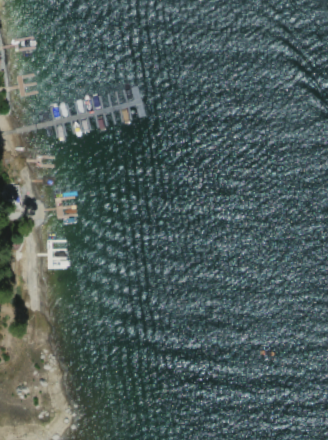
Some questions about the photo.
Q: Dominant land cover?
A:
water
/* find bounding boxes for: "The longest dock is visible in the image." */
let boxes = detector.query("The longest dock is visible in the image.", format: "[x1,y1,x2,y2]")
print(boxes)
[2,86,146,138]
